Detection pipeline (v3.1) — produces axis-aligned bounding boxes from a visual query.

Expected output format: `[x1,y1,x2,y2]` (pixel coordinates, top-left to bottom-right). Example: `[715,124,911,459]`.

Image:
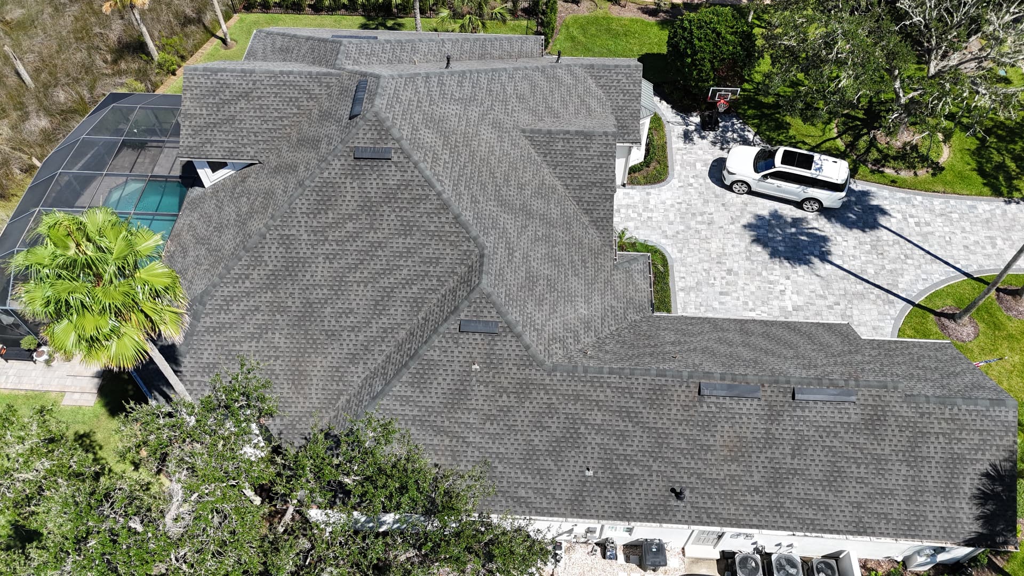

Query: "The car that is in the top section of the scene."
[723,148,854,212]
